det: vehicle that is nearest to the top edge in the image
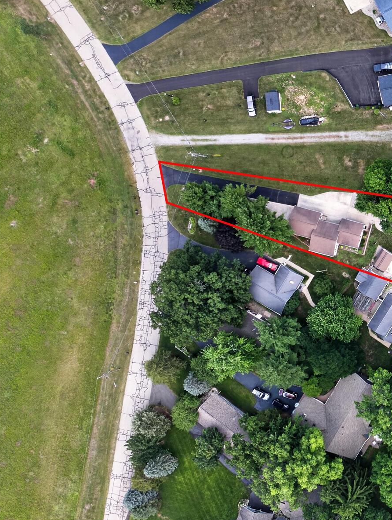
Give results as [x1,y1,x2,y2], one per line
[372,60,392,73]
